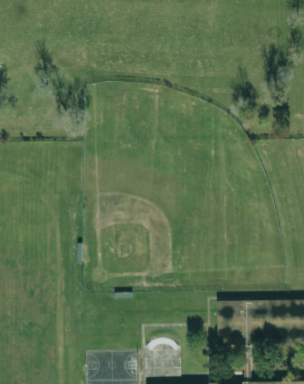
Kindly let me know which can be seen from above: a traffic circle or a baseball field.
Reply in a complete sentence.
Looking from above, you can make out a baseball field.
